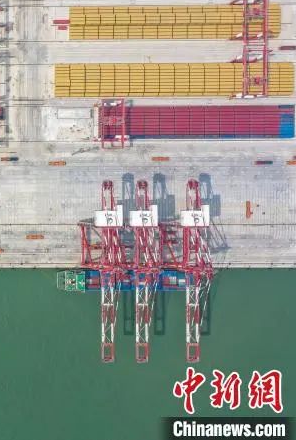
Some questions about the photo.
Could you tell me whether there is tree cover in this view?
No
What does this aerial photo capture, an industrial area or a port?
port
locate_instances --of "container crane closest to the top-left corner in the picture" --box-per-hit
[92,97,125,148]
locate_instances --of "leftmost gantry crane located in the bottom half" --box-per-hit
[79,177,124,361]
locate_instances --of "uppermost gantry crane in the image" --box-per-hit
[228,0,268,43]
